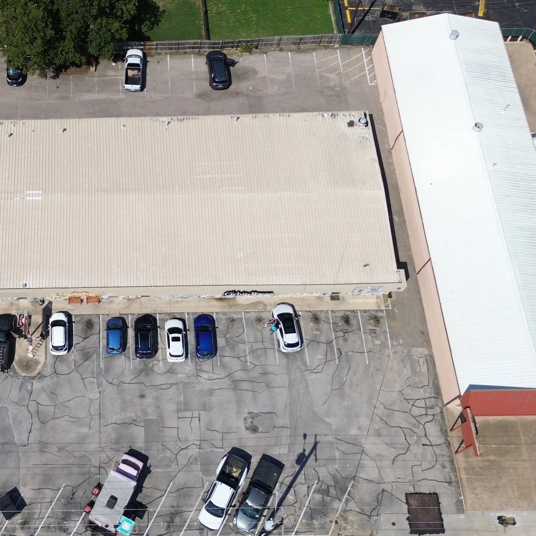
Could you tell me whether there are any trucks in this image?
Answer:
Yes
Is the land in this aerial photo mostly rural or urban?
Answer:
urban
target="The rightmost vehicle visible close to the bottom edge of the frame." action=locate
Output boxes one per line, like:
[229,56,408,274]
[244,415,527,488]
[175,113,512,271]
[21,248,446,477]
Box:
[235,456,283,536]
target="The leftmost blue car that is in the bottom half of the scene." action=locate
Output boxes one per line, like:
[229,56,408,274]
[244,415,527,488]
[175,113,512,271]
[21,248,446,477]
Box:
[106,320,127,356]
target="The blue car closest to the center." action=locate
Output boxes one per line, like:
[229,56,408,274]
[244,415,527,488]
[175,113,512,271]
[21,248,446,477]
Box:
[194,318,216,360]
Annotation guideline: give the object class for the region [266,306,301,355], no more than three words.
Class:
car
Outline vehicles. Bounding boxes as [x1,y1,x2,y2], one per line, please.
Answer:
[135,318,158,362]
[235,456,283,536]
[106,320,127,356]
[0,317,20,375]
[194,318,216,360]
[207,52,235,91]
[201,451,251,534]
[47,316,70,358]
[165,321,187,364]
[124,49,143,94]
[87,457,146,536]
[266,306,301,355]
